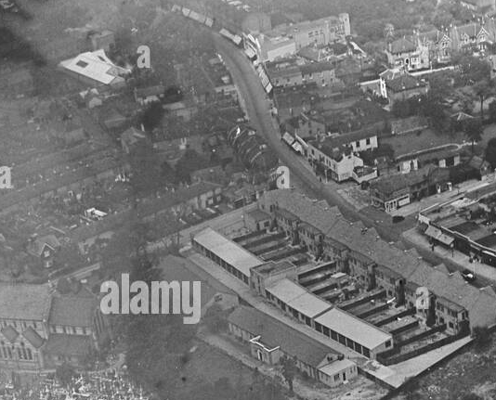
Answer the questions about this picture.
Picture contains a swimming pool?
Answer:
No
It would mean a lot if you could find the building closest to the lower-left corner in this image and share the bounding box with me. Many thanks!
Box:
[0,291,118,369]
